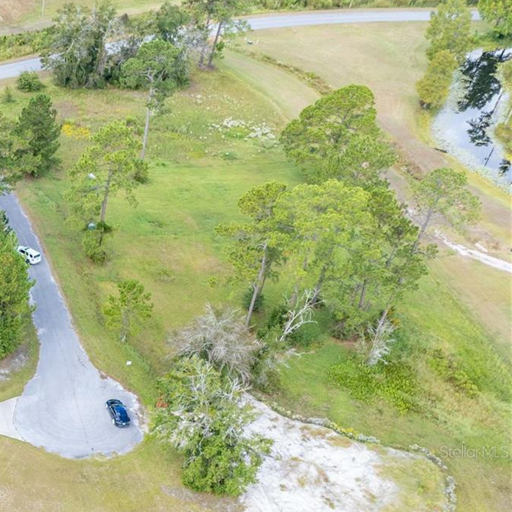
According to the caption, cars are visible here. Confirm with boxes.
[104,400,134,428]
[19,246,44,267]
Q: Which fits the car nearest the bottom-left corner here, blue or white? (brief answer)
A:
blue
